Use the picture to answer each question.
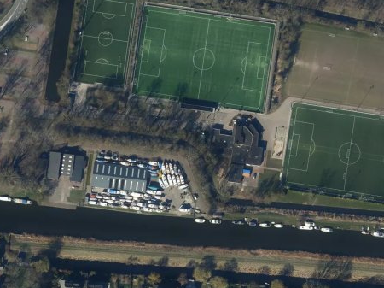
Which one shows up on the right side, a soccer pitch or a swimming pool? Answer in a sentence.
The feature located on the right side is a soccer pitch.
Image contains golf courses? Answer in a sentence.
No, there is no golf course in the image.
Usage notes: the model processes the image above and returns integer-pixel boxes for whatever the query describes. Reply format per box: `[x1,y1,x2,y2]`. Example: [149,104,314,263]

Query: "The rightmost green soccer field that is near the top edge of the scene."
[132,2,279,113]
